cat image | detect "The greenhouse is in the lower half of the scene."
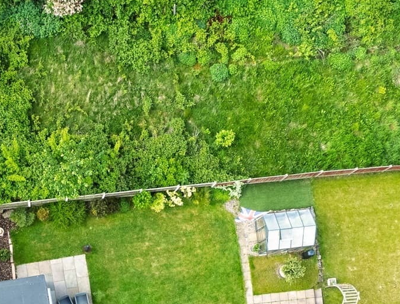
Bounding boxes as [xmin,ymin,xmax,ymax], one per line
[257,209,316,255]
